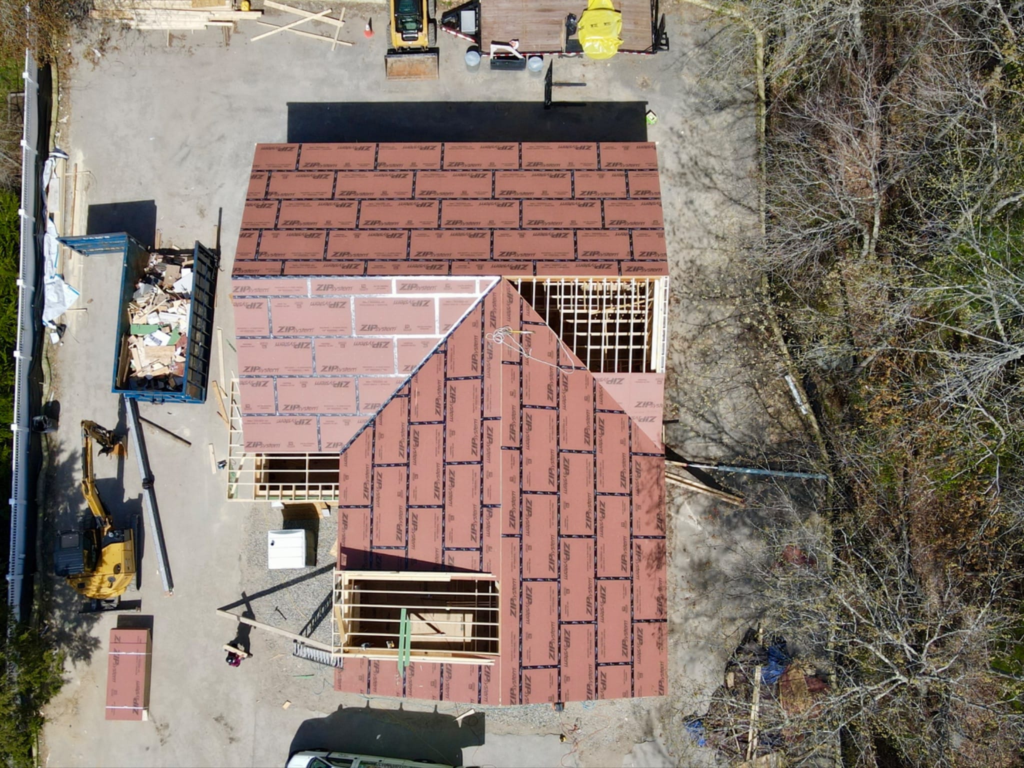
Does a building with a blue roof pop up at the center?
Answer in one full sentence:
No, looking at the center, there is no building with a blue roof.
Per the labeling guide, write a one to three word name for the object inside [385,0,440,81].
work vehicle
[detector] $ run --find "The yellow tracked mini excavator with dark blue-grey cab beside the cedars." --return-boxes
[53,420,144,612]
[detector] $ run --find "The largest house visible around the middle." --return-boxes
[227,142,669,705]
